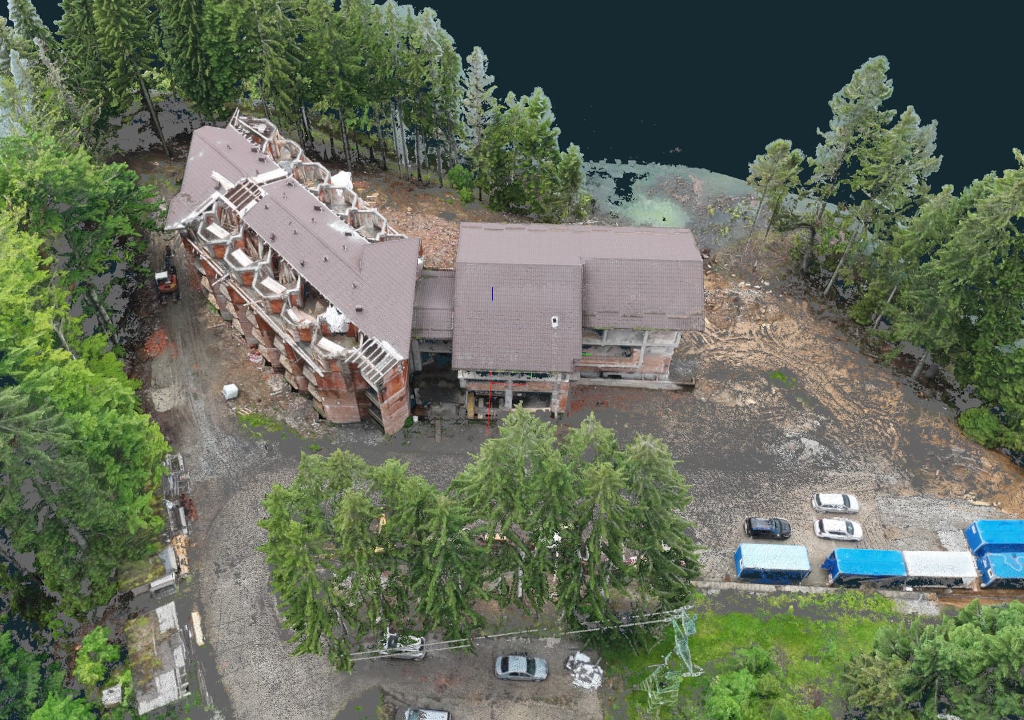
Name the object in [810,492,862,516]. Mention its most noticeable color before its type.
white car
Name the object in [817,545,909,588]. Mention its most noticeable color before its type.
blue shipping container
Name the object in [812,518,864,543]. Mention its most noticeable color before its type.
white car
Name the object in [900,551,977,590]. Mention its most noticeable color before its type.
white shipping container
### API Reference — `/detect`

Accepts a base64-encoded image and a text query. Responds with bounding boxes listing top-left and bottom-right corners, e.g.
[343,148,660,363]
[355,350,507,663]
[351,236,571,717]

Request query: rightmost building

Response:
[451,226,707,416]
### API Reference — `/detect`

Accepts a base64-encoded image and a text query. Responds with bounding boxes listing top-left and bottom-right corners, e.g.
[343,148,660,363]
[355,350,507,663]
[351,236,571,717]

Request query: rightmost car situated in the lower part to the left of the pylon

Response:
[494,655,549,682]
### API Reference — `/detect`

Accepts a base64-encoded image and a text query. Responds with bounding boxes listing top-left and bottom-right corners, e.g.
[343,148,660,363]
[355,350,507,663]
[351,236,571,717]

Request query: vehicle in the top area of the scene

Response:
[149,253,178,303]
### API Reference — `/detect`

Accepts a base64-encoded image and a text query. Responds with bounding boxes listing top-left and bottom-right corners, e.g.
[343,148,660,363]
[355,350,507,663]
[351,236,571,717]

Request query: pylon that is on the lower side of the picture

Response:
[640,600,711,720]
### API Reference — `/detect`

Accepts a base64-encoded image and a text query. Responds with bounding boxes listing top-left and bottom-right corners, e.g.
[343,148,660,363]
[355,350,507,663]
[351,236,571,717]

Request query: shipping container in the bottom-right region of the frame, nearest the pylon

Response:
[735,544,812,583]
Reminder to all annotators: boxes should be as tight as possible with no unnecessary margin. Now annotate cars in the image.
[494,655,549,682]
[812,518,864,543]
[744,516,791,541]
[810,492,862,516]
[373,635,427,662]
